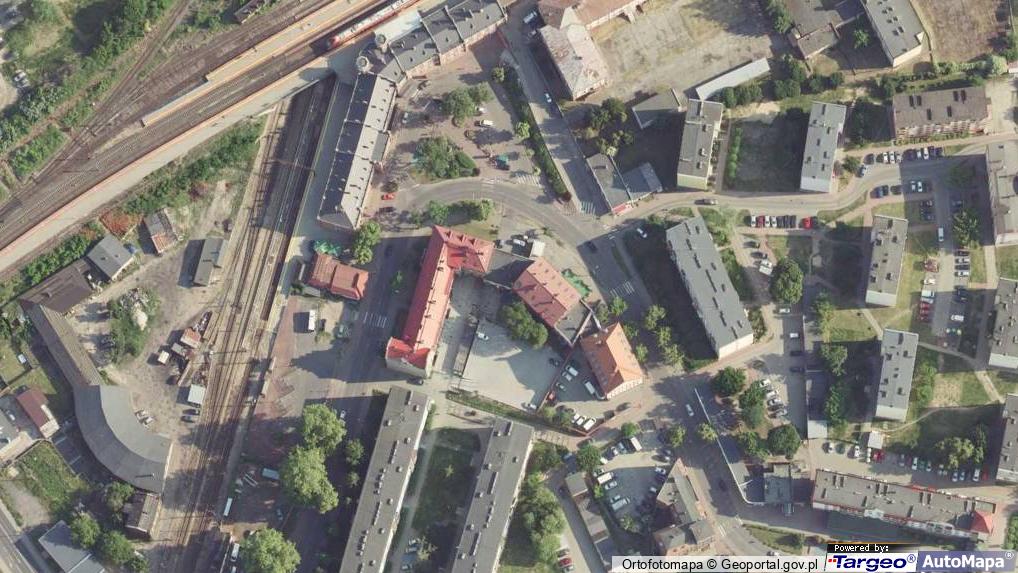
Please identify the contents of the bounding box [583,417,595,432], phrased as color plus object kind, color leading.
white vehicle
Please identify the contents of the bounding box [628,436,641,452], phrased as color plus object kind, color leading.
white vehicle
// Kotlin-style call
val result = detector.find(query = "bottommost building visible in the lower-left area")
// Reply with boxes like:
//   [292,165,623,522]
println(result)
[39,520,108,573]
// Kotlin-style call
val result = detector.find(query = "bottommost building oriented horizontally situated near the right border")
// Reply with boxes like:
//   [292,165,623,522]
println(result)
[811,470,996,542]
